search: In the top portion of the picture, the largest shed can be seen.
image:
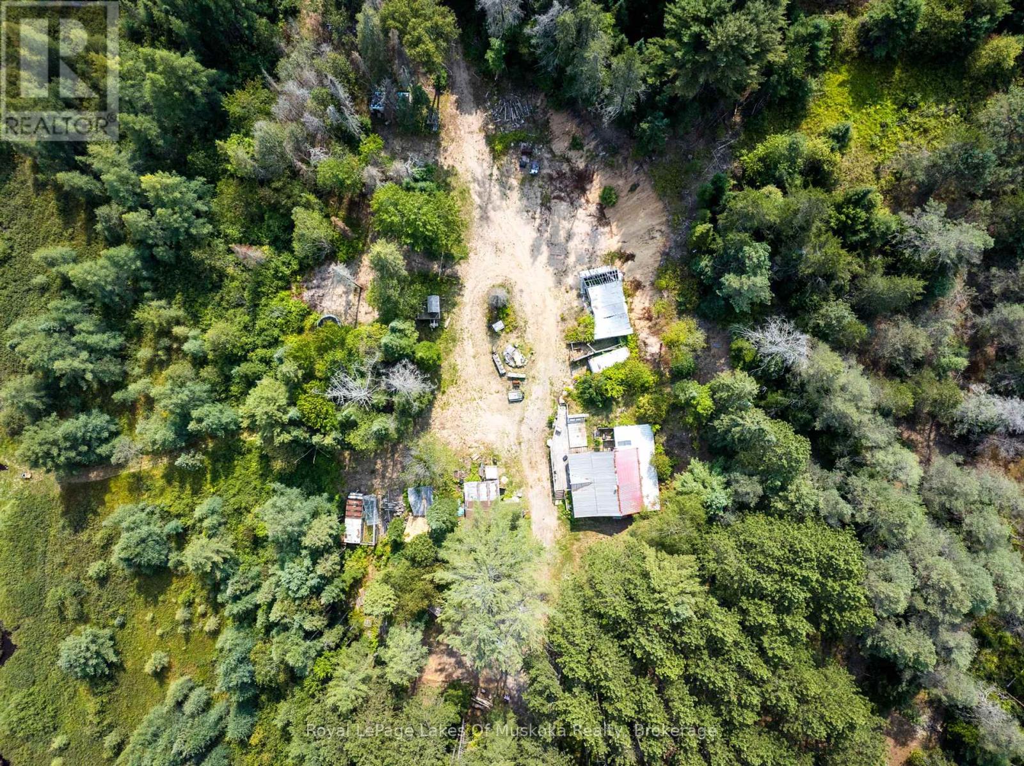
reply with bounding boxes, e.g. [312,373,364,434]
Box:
[579,262,633,341]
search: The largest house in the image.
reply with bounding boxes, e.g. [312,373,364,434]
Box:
[568,425,658,518]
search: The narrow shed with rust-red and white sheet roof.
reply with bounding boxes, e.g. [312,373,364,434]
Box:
[343,491,365,544]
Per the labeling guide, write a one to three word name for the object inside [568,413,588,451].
shed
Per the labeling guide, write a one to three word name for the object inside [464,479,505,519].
shed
